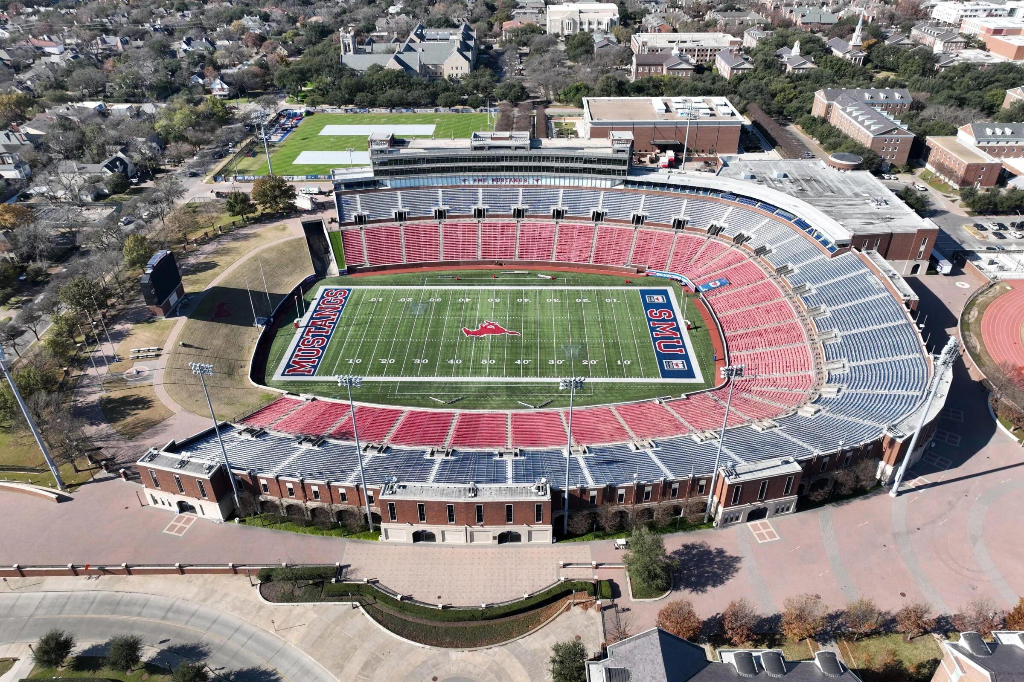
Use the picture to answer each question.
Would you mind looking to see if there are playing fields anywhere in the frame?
Yes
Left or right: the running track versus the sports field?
on the right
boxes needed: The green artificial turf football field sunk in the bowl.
[264,270,717,419]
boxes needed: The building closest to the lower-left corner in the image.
[136,447,233,521]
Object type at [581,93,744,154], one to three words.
building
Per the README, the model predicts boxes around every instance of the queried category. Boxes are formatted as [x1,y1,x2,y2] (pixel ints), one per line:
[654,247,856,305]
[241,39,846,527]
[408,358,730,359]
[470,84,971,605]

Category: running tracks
[981,278,1024,388]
